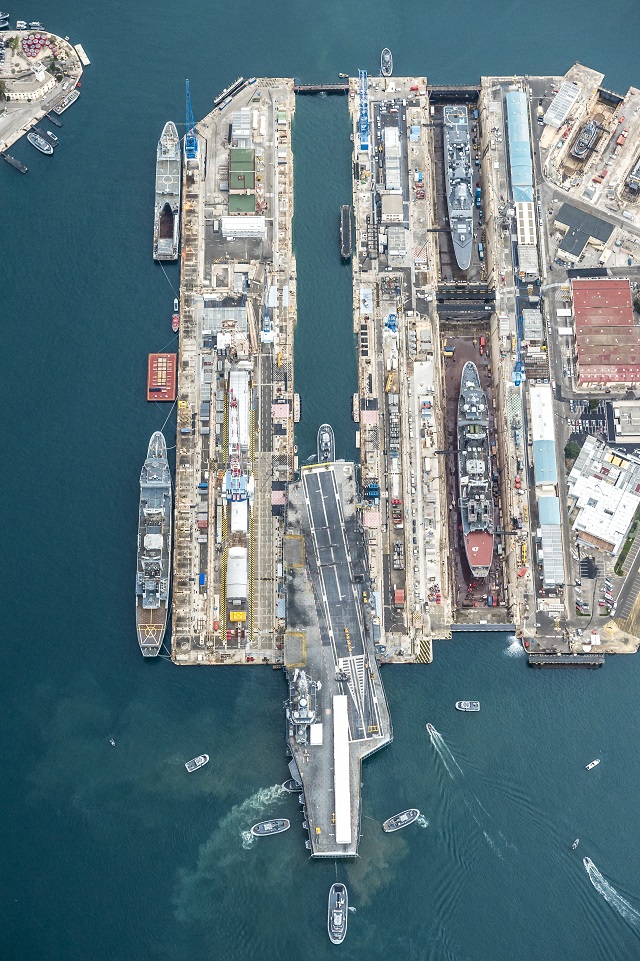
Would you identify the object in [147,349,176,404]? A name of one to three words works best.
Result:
ship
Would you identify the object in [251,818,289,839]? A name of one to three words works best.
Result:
boat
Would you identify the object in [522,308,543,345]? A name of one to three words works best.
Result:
building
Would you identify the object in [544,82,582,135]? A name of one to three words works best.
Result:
building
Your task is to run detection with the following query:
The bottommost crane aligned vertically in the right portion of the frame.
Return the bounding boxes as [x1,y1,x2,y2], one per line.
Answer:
[510,299,530,395]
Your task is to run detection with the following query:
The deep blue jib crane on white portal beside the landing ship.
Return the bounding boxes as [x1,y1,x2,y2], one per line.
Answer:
[182,80,200,165]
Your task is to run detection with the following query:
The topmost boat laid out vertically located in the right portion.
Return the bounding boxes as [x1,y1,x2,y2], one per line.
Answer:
[380,48,392,77]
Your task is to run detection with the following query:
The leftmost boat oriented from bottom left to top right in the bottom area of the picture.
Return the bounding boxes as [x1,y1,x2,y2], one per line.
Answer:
[183,754,210,775]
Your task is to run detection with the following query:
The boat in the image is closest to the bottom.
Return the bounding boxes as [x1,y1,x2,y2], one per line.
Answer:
[327,883,349,943]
